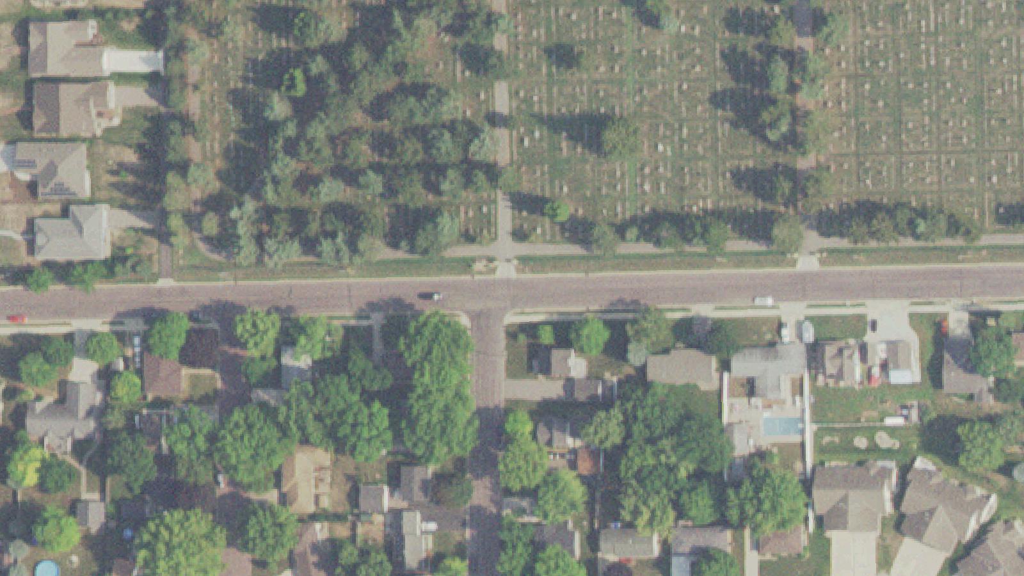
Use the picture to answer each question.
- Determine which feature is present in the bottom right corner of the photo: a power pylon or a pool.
pool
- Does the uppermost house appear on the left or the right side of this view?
left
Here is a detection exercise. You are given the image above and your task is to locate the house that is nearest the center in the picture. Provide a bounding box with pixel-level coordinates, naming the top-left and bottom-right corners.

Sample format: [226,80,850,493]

[551,349,580,378]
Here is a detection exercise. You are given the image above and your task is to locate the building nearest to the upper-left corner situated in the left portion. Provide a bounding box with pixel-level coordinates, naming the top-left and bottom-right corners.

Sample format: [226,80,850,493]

[30,21,107,78]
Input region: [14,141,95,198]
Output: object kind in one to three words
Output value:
house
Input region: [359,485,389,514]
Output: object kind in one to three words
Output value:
building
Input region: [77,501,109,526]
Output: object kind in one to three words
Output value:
building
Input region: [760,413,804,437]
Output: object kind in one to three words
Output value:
swimming pool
